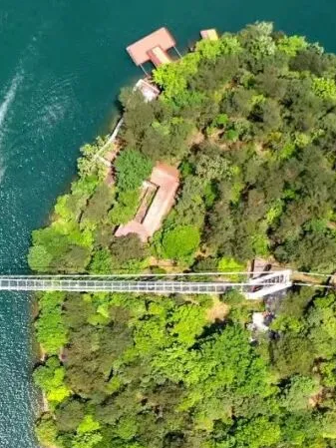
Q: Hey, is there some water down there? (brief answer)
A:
Yes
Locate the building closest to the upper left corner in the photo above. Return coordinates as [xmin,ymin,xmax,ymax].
[123,78,158,105]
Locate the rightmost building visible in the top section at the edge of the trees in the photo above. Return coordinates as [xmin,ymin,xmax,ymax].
[196,27,218,47]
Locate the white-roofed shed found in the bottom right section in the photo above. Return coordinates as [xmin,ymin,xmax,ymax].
[243,316,271,336]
